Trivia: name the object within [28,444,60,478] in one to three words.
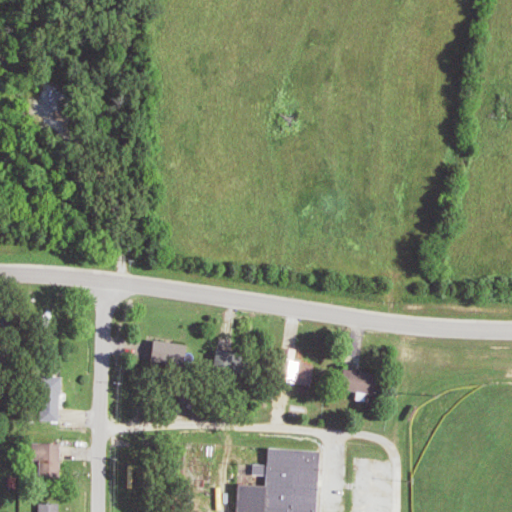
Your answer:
house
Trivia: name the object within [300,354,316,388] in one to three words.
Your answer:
house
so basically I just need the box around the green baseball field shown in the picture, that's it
[410,382,512,512]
